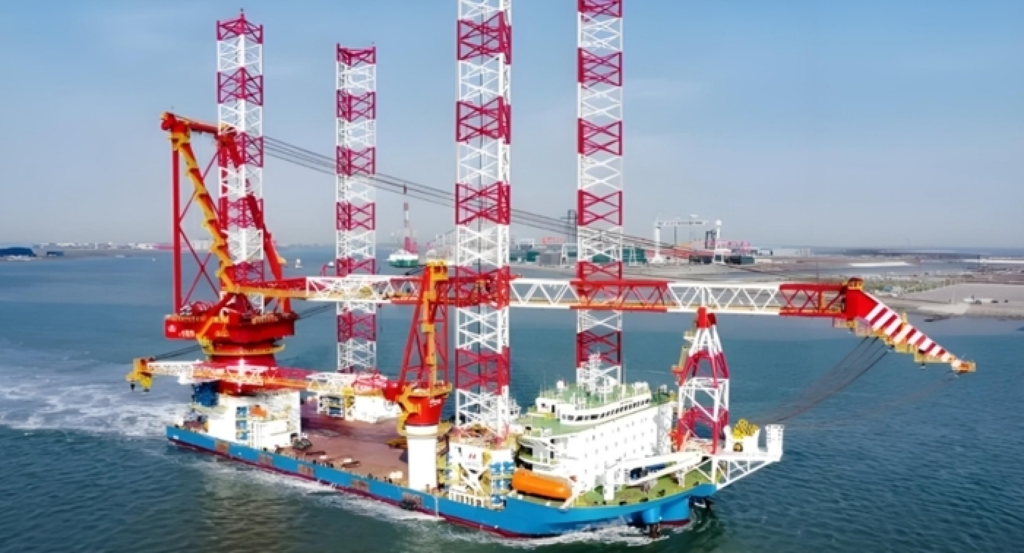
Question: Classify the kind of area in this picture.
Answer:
port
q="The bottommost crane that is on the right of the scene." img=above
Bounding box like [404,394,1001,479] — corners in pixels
[600,446,706,503]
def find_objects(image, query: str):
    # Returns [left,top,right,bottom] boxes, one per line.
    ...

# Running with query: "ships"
[389,189,419,267]
[166,0,781,540]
